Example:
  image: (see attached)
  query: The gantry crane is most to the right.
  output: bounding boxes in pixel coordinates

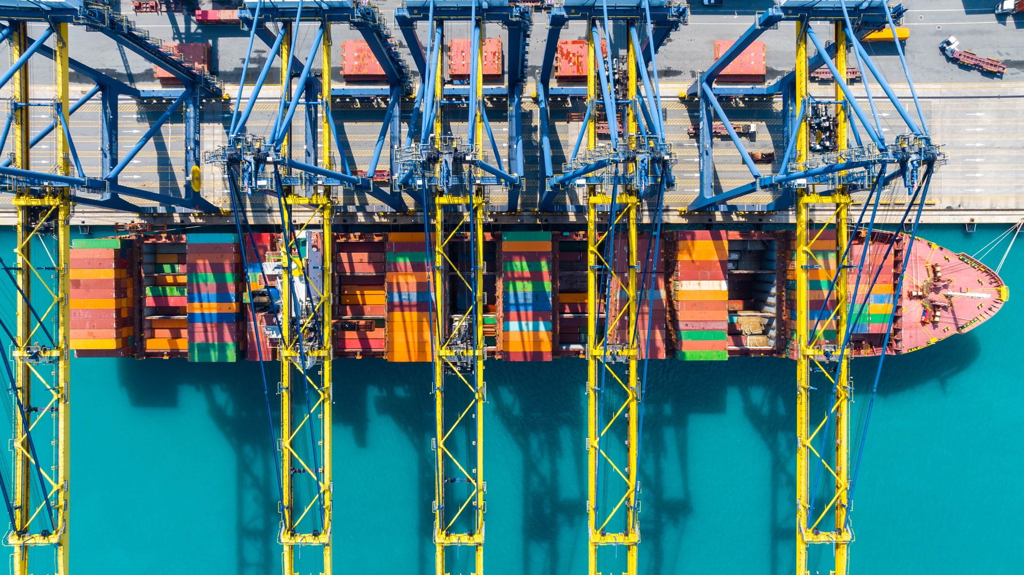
[678,0,945,575]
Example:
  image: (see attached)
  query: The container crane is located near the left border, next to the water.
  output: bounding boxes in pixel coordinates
[0,0,231,575]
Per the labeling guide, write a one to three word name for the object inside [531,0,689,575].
container crane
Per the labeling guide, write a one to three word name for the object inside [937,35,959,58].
truck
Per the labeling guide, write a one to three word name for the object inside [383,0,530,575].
container crane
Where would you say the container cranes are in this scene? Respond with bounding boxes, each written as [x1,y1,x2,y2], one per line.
[216,0,419,575]
[383,0,530,575]
[678,0,945,575]
[531,0,689,575]
[0,0,231,575]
